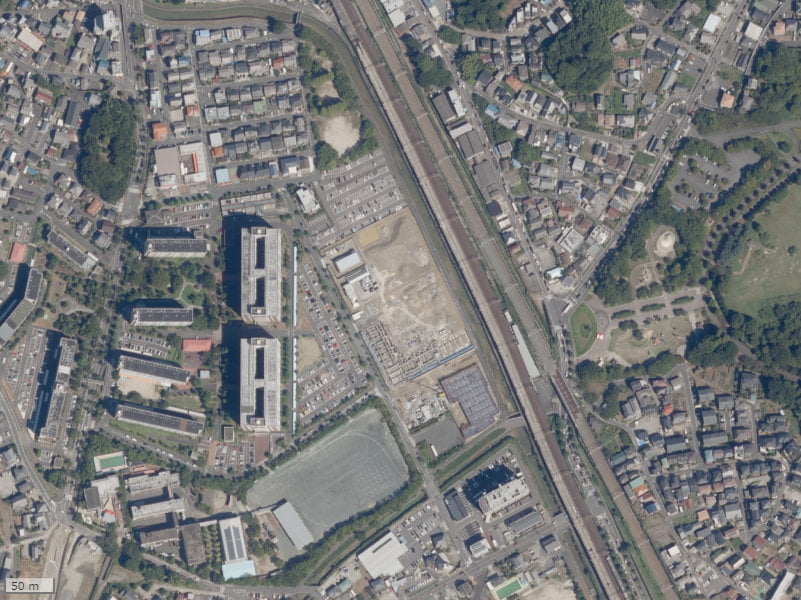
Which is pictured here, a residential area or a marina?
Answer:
residential area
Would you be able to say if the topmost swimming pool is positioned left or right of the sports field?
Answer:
to the left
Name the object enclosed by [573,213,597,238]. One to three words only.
house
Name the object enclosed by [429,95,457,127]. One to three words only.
building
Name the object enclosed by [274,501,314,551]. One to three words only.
building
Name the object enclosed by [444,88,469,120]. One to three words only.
house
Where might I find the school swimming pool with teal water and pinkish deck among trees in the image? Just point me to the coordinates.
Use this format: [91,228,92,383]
[95,451,128,472]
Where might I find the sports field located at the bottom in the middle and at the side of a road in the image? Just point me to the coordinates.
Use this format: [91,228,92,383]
[247,409,409,553]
